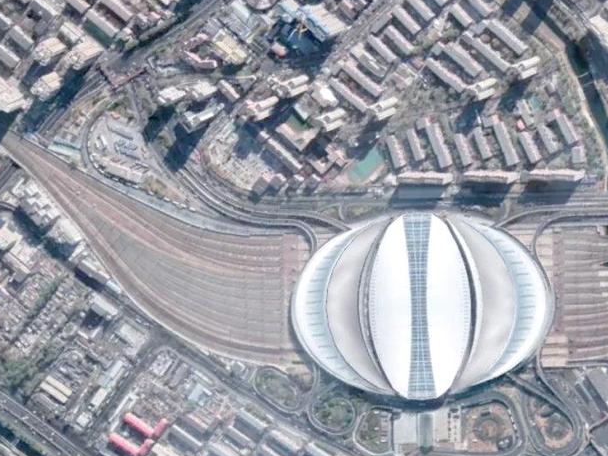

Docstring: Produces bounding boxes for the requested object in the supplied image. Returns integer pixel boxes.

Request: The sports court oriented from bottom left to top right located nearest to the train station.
[349,150,385,181]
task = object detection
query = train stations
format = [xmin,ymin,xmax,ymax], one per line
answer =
[291,211,556,399]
